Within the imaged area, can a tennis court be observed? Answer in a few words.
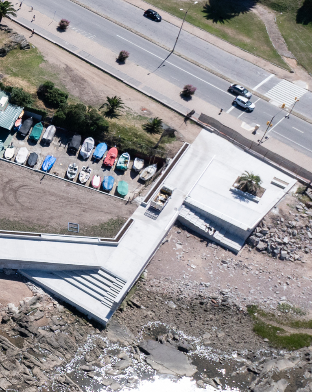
No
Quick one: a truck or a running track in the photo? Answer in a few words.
truck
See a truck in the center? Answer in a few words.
Yes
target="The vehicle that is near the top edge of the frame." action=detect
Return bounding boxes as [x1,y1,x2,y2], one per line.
[141,7,167,23]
